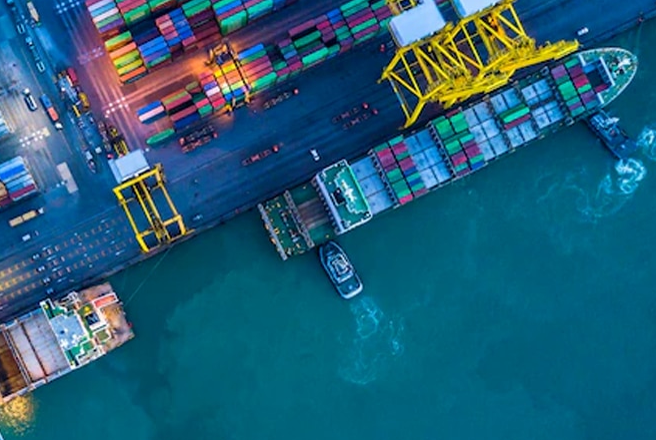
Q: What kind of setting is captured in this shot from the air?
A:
port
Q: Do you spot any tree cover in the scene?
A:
No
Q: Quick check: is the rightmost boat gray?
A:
No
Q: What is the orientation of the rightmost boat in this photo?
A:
on a diagonal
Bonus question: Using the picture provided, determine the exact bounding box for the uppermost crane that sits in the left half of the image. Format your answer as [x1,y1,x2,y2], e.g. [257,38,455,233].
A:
[201,30,253,112]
